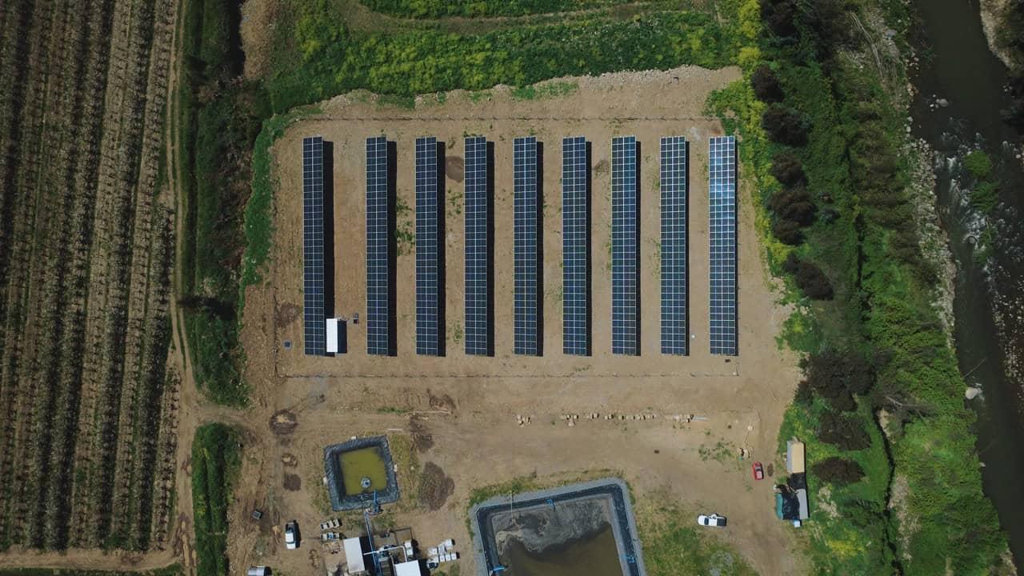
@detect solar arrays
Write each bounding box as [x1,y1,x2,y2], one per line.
[514,136,537,355]
[366,136,387,355]
[660,136,686,355]
[303,136,323,355]
[465,136,487,355]
[709,136,736,355]
[612,136,636,355]
[416,136,437,355]
[563,136,587,355]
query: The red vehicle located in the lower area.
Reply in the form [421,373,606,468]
[751,461,763,481]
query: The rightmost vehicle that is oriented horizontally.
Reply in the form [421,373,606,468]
[697,511,727,527]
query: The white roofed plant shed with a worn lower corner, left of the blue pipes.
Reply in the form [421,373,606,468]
[343,537,365,573]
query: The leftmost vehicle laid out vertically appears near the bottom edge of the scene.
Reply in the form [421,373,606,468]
[285,520,298,550]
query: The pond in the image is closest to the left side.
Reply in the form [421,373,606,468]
[324,435,400,510]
